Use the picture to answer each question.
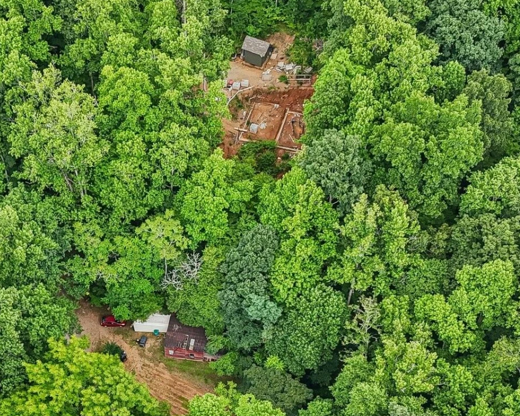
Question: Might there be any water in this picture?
No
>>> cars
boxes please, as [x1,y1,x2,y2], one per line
[113,342,126,363]
[100,314,125,326]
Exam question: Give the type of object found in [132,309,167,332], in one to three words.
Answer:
shed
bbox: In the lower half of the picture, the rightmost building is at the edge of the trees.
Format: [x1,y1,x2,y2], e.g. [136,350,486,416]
[163,313,208,359]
